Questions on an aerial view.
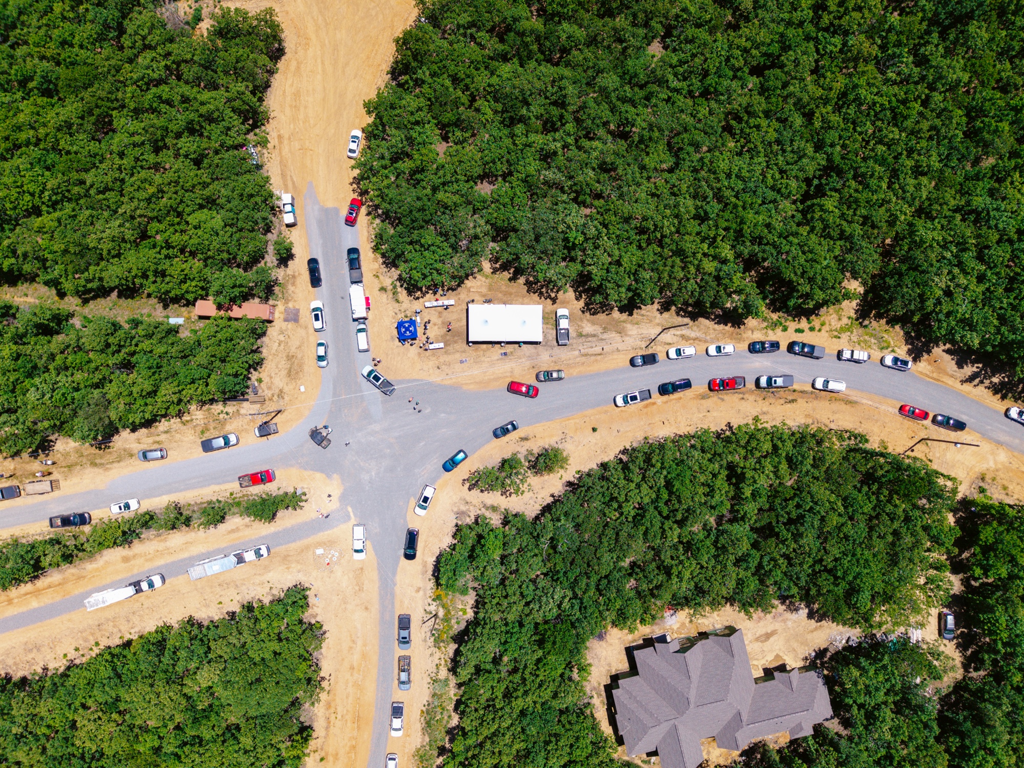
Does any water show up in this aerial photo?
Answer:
No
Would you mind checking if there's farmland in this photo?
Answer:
No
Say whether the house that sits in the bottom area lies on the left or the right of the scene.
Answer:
right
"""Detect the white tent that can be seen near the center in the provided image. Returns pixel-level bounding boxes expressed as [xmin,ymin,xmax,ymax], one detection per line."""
[467,304,545,344]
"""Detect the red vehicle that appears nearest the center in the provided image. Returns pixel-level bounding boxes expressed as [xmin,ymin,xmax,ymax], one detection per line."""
[507,380,540,398]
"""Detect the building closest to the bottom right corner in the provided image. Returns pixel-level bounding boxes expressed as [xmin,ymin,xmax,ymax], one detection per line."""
[612,623,835,768]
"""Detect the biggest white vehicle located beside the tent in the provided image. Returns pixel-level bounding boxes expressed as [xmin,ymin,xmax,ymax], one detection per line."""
[556,308,572,348]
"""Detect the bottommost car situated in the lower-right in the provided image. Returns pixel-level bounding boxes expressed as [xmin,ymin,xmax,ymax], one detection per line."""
[939,611,958,640]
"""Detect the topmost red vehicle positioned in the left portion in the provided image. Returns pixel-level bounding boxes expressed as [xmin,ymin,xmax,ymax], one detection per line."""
[344,197,362,227]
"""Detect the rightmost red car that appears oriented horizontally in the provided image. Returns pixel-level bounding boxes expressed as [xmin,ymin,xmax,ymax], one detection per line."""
[897,404,931,421]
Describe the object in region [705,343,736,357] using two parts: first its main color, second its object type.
white car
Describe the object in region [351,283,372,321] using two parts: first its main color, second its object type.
white trailer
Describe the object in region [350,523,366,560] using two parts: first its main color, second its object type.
white vehicle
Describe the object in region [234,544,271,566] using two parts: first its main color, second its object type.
white truck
